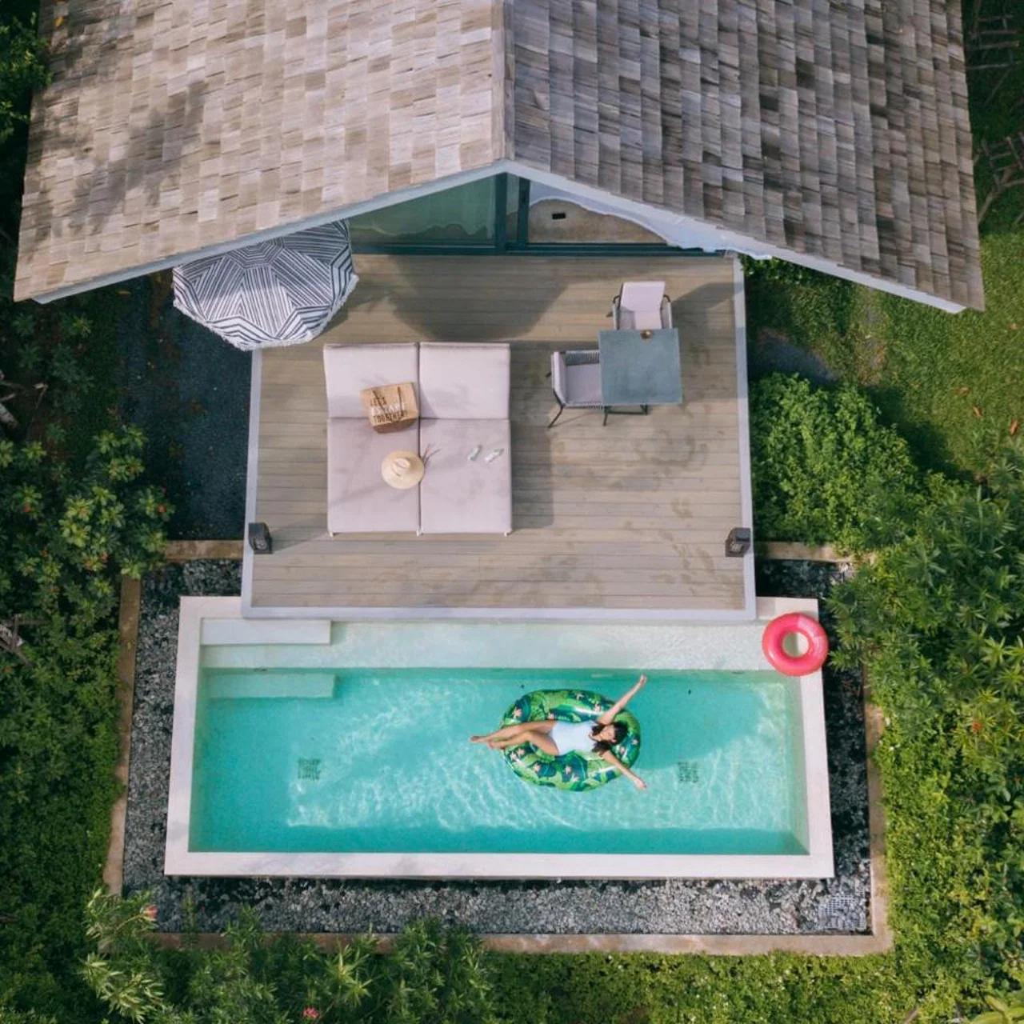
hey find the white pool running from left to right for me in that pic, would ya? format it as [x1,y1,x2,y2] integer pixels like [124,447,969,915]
[163,598,834,879]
